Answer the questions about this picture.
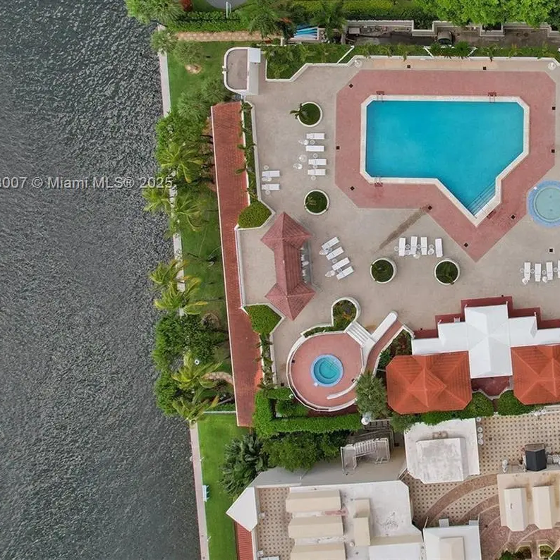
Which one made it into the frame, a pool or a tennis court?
pool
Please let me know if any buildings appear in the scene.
Yes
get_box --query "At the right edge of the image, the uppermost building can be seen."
[386,301,560,414]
